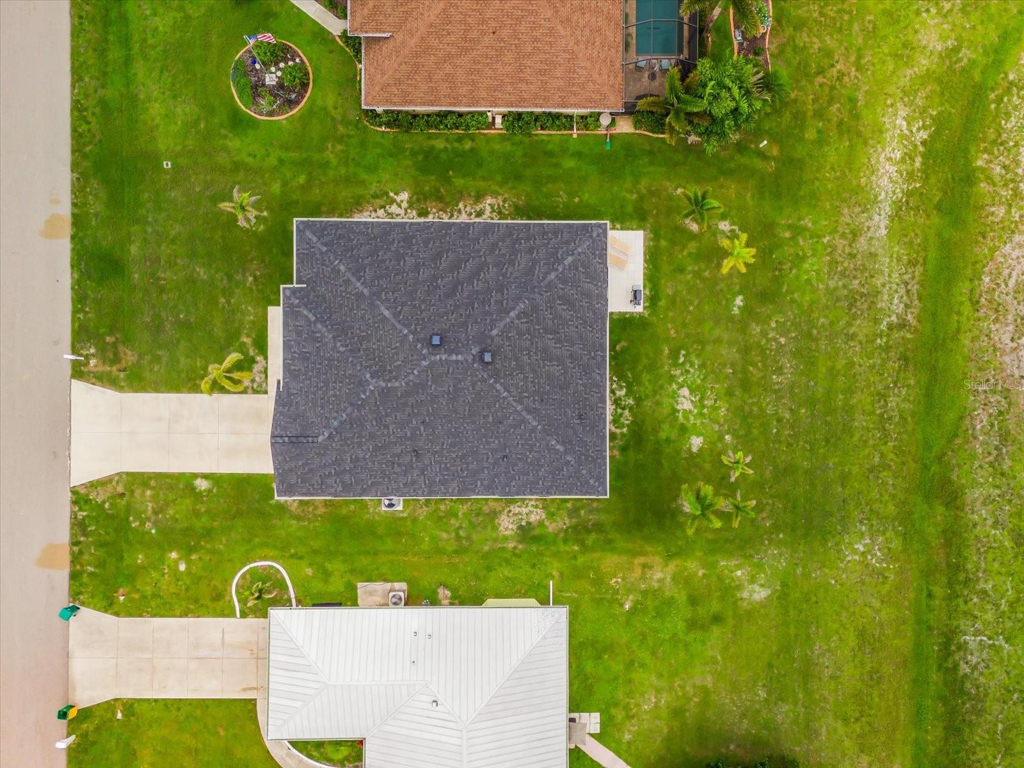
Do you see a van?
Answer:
No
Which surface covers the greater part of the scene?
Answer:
grass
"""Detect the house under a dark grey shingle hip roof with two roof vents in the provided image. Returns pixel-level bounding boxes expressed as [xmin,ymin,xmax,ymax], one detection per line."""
[270,219,610,499]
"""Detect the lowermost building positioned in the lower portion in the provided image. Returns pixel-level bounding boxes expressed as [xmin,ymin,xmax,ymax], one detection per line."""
[267,598,570,768]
